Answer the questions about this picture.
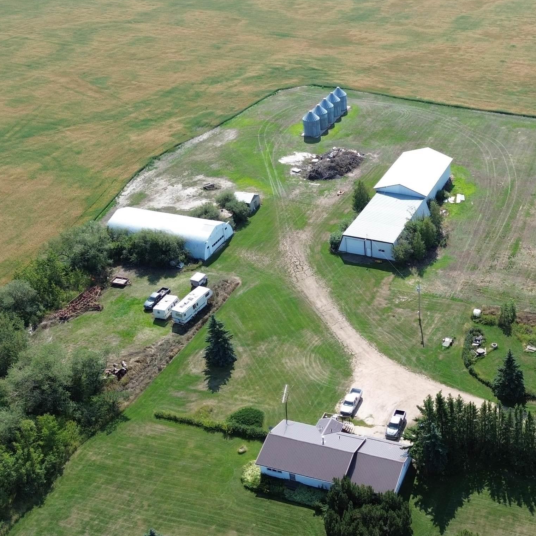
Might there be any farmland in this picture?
Yes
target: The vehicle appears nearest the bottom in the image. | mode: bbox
[387,409,406,442]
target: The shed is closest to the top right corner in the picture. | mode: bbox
[374,148,450,216]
